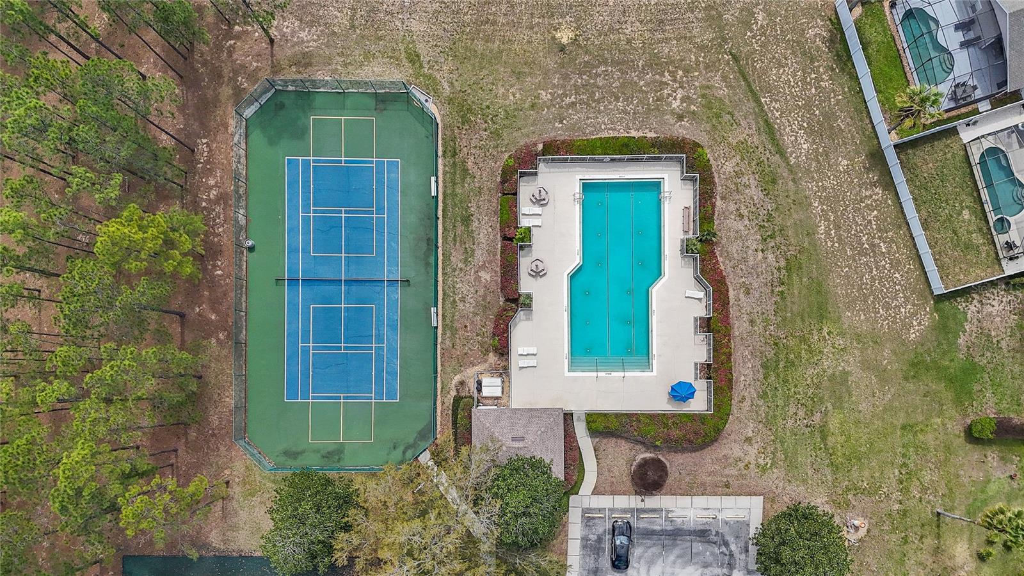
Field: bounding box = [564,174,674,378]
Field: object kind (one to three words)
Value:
swimming pool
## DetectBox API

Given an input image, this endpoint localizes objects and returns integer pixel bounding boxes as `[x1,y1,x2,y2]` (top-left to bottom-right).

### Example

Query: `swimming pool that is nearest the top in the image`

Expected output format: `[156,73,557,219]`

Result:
[900,5,956,87]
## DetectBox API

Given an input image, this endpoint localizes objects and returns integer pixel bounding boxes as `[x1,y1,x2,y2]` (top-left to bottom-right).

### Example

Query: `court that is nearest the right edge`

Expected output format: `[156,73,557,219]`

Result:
[246,92,438,467]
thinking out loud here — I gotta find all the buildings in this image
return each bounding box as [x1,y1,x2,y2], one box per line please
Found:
[972,0,1024,103]
[471,408,565,485]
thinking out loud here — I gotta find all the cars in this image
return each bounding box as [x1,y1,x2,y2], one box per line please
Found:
[611,520,634,570]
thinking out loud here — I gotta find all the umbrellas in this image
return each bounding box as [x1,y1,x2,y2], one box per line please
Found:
[669,380,695,405]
